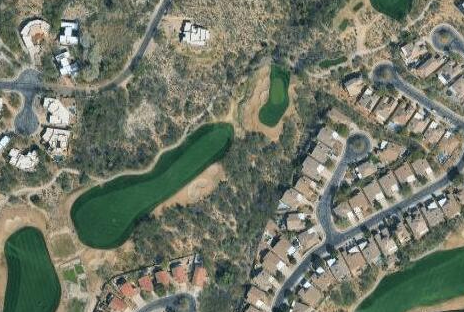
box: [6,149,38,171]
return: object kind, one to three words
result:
house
